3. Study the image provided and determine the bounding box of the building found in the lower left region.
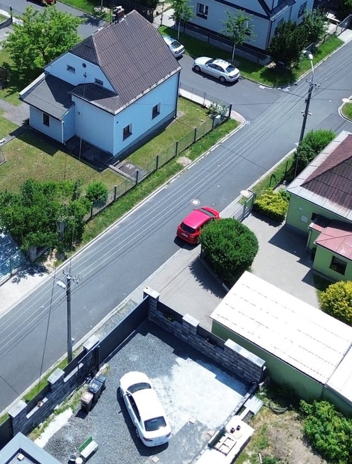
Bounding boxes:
[0,434,59,464]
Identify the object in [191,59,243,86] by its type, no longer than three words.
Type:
car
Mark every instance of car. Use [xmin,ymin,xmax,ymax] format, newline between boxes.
[162,31,191,56]
[191,59,243,86]
[117,375,176,450]
[34,0,59,7]
[174,205,223,247]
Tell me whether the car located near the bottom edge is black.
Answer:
No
